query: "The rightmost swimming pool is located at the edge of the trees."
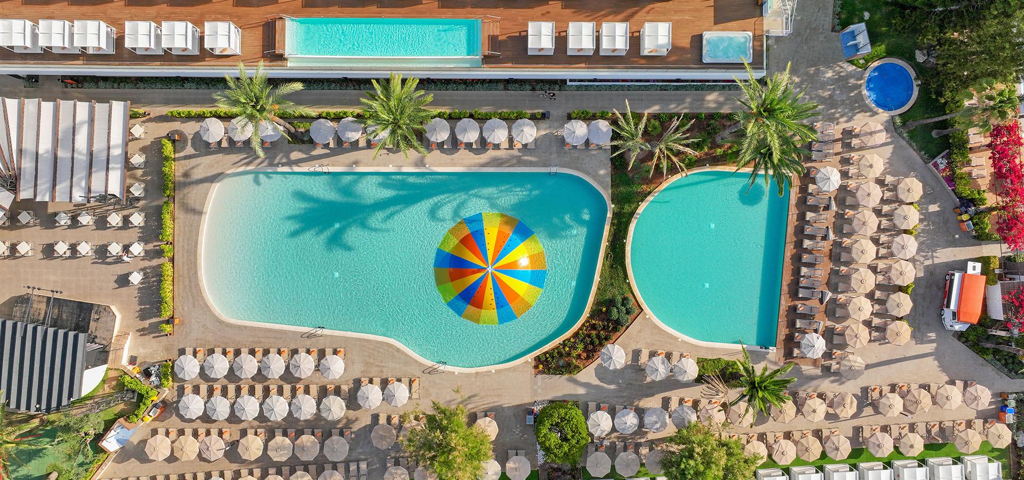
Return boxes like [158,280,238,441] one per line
[867,63,914,110]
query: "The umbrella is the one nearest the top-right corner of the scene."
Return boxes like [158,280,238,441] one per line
[859,119,886,145]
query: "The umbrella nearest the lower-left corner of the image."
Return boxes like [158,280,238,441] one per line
[144,434,170,459]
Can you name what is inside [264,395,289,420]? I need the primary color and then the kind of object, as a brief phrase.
white umbrella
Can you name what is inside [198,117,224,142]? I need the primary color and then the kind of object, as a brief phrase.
white umbrella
